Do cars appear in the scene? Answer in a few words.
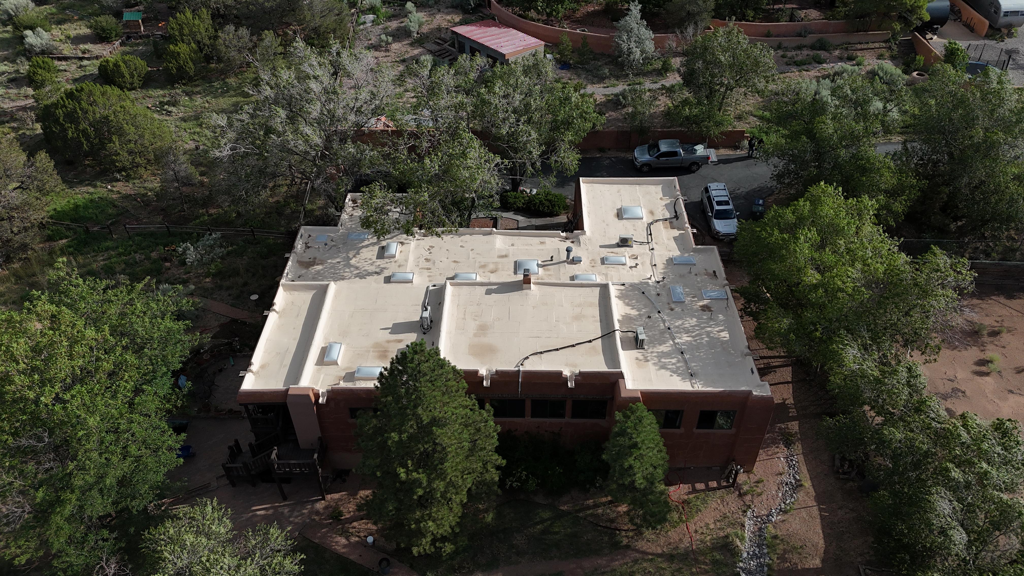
Yes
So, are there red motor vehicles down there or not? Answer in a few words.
No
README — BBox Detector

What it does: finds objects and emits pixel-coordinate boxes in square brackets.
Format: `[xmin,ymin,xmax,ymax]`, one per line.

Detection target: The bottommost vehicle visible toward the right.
[698,183,740,240]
